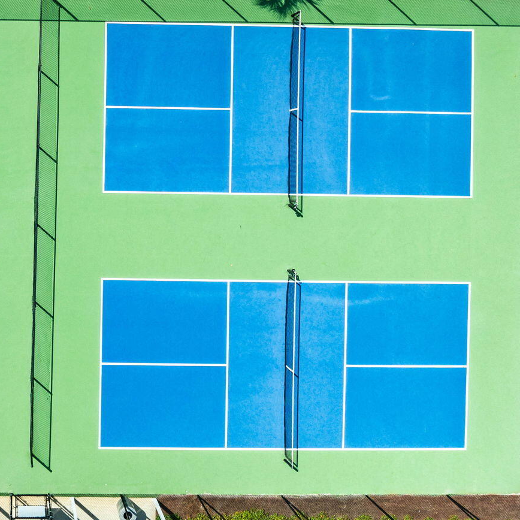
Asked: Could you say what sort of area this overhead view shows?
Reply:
sports ground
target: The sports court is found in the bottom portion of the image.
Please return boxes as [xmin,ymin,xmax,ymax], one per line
[101,279,470,451]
